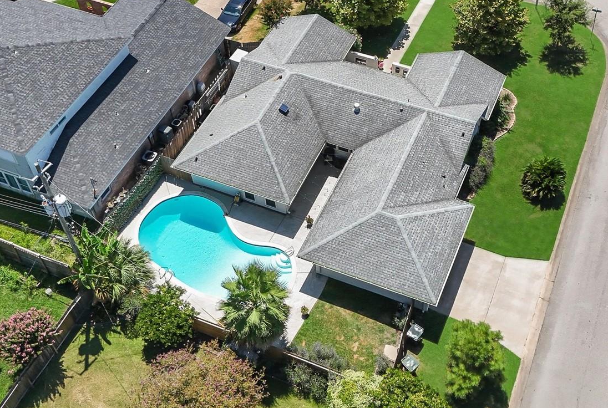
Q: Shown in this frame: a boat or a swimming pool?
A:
swimming pool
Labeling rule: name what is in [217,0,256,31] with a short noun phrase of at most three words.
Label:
car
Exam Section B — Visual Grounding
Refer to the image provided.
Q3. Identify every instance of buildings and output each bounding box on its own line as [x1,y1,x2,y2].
[0,0,232,225]
[171,13,506,315]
